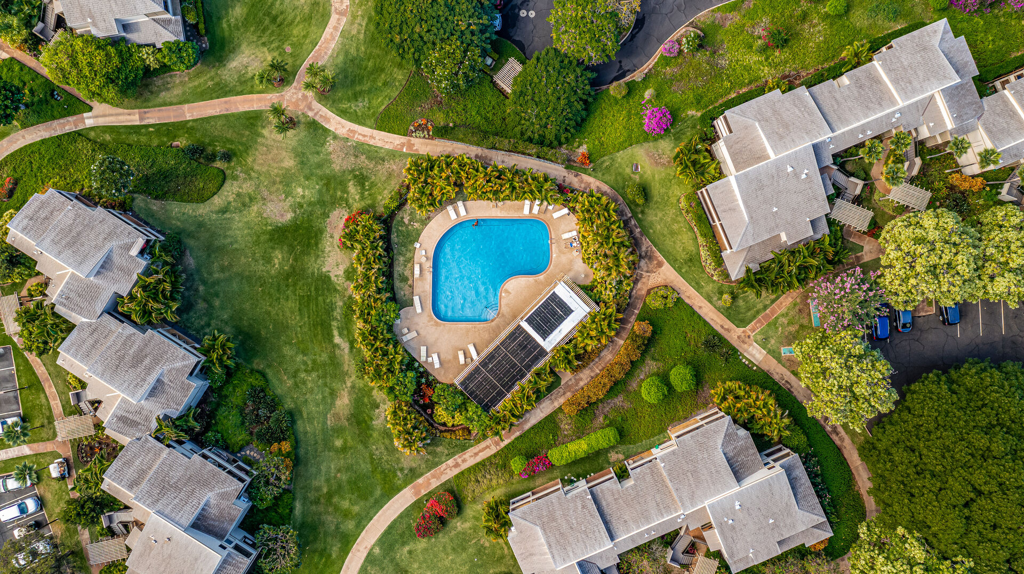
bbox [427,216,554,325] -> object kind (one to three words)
swimming pool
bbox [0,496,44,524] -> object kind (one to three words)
car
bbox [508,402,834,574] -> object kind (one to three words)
building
